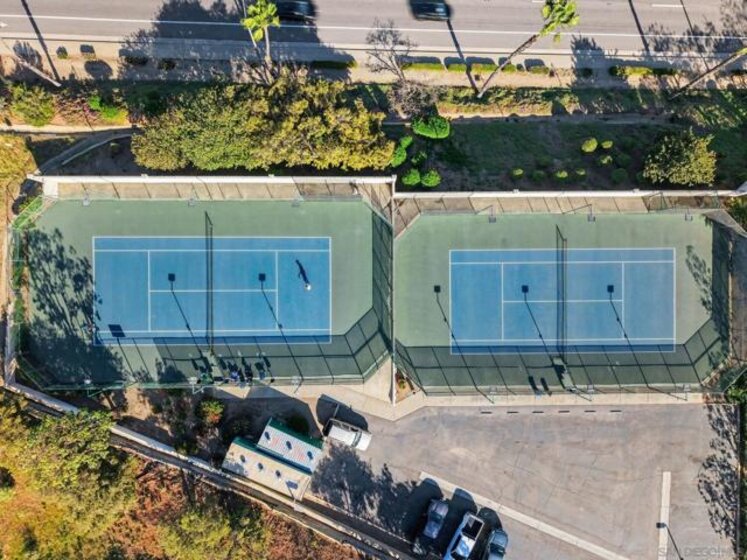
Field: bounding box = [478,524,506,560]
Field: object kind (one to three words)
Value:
car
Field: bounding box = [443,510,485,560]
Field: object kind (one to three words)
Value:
truck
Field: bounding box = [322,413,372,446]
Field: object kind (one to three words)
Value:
car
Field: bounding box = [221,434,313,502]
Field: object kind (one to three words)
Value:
shed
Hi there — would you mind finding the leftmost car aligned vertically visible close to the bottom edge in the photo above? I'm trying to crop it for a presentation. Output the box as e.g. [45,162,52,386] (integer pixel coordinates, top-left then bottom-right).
[422,494,446,540]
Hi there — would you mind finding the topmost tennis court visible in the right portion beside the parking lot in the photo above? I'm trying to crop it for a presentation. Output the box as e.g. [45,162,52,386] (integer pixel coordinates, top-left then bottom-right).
[397,214,729,387]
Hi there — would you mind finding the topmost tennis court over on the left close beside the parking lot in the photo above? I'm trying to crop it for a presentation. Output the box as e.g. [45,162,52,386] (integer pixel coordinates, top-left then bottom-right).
[28,201,390,376]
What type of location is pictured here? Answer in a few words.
sports ground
